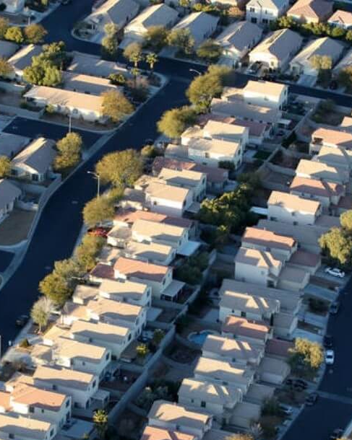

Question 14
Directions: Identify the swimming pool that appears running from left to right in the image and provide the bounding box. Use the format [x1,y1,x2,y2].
[182,323,221,338]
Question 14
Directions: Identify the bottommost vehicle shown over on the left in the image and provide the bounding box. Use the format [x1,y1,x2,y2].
[14,316,31,328]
